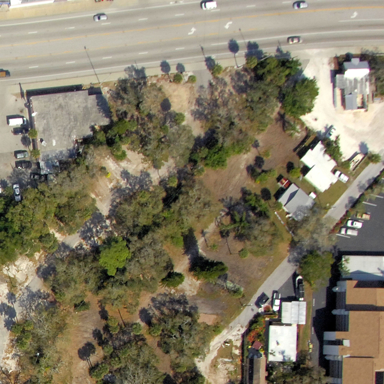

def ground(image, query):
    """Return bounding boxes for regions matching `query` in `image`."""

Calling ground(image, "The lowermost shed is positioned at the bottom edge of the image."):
[245,357,265,384]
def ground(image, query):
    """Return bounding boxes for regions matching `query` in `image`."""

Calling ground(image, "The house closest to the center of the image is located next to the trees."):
[278,183,315,217]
